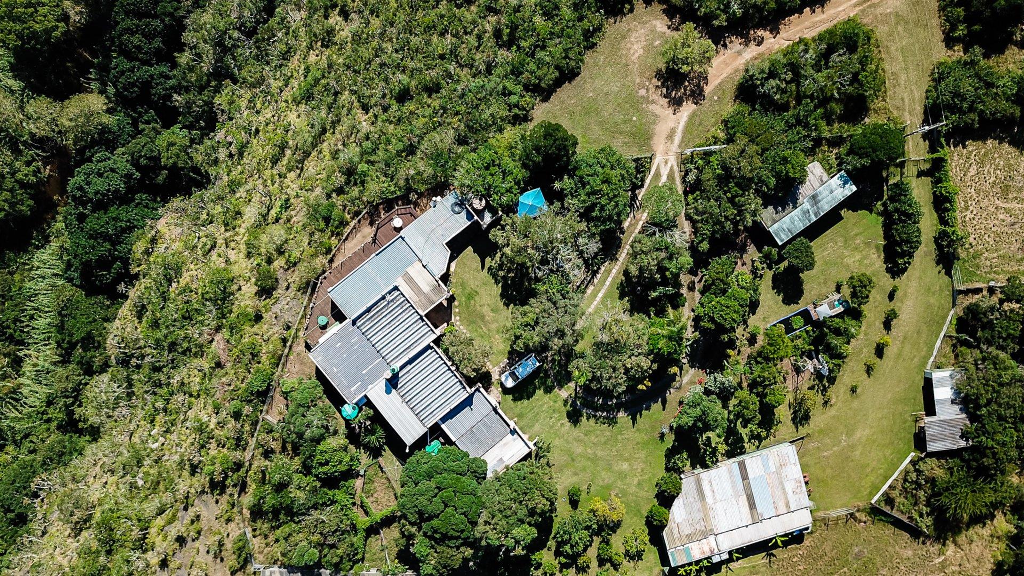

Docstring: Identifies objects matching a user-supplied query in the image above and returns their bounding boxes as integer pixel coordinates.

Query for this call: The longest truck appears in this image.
[497,349,545,390]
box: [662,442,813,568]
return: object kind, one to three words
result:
barn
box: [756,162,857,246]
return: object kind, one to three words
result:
shed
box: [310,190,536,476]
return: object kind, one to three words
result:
house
